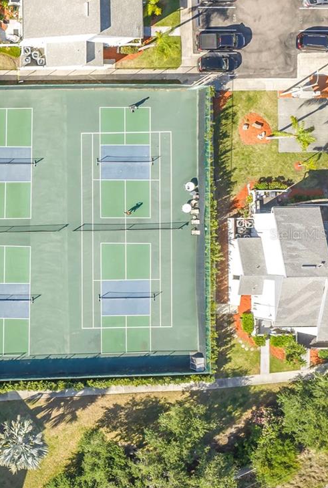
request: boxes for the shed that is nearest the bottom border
[191,355,211,376]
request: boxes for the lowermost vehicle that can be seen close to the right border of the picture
[294,30,328,51]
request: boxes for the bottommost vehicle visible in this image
[195,52,236,71]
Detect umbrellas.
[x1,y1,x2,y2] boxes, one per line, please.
[177,203,191,214]
[180,181,194,192]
